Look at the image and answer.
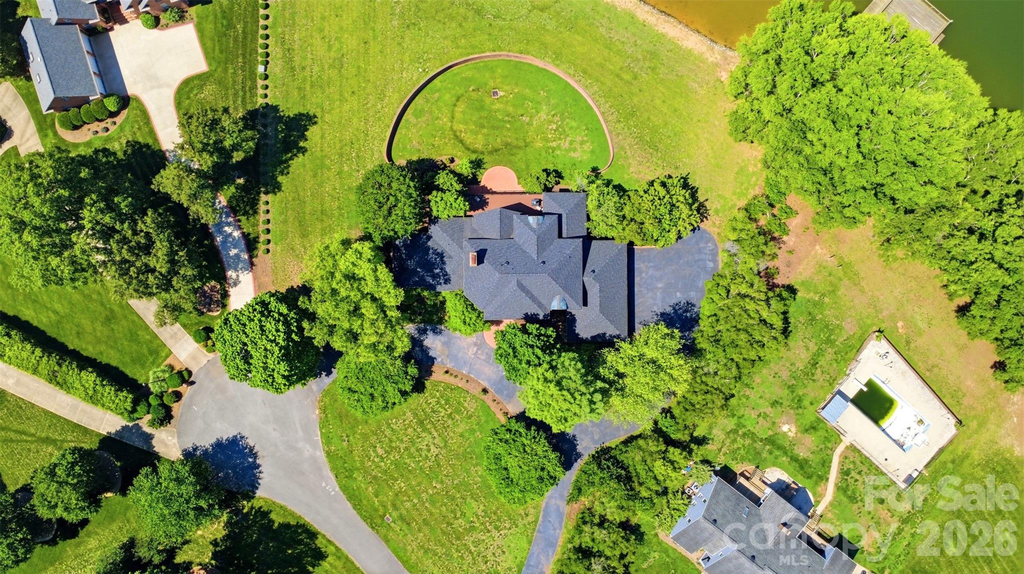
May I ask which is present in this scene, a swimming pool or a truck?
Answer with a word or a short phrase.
swimming pool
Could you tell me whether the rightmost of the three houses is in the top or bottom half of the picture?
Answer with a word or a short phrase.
bottom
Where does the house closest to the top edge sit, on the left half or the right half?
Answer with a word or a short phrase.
left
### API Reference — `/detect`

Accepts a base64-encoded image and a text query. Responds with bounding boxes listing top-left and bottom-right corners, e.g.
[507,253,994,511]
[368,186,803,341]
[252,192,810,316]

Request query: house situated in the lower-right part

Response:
[670,477,858,574]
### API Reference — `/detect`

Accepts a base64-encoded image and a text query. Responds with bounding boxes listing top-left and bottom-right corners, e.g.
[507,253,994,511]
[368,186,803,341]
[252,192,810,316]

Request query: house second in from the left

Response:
[393,192,627,342]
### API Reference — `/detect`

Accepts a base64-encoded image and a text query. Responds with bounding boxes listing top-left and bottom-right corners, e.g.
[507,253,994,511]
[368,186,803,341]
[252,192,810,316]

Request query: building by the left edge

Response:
[20,0,203,116]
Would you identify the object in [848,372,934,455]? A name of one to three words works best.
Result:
swimming pool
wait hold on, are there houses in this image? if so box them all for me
[20,0,203,116]
[670,477,858,574]
[393,192,627,342]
